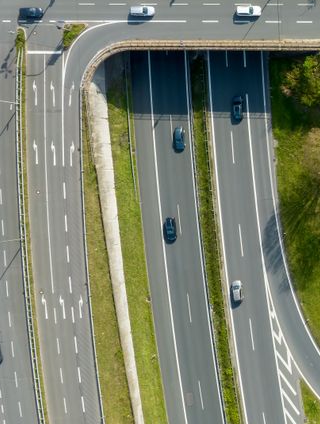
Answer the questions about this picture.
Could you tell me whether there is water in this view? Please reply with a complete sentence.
No, the scene doesn't show any water.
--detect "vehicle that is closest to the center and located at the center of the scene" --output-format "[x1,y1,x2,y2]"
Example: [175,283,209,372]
[164,217,176,241]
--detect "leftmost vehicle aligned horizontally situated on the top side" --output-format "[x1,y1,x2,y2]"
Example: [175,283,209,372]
[18,7,45,19]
